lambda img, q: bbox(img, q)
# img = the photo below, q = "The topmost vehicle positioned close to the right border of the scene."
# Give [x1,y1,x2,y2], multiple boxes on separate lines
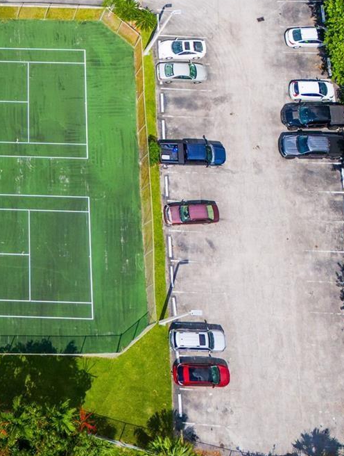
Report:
[282,26,335,50]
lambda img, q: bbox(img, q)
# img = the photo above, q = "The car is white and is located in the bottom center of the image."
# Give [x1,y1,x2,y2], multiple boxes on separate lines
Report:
[168,327,226,355]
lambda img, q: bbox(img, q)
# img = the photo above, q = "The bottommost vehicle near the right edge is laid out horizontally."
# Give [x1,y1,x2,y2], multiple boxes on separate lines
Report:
[276,134,344,160]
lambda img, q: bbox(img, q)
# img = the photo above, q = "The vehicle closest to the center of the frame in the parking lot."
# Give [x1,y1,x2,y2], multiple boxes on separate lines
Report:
[163,201,221,226]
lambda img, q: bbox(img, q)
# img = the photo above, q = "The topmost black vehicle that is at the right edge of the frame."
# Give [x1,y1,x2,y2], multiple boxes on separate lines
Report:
[278,104,344,131]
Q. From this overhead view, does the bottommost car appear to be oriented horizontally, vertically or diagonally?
horizontally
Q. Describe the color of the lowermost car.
red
